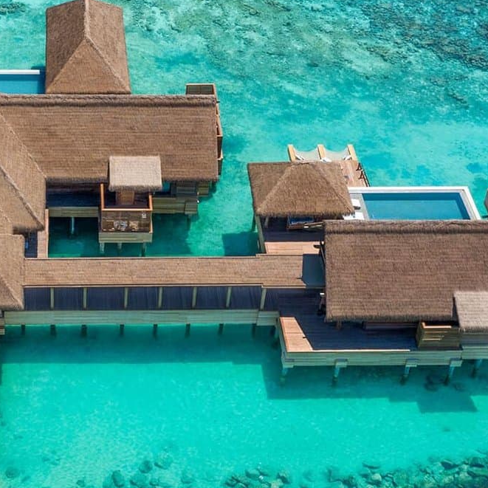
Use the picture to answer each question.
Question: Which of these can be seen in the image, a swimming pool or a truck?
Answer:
swimming pool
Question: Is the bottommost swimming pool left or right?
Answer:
right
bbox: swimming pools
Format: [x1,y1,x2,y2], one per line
[348,186,481,218]
[0,69,45,93]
